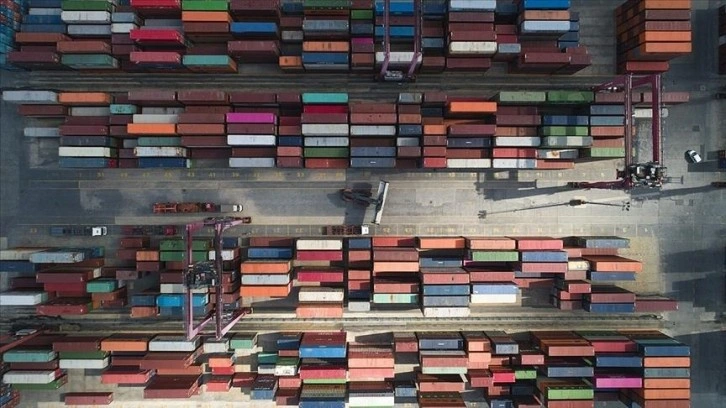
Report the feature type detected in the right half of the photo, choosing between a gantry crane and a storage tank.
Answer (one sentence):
The one visible in the right half of the photo is a gantry crane.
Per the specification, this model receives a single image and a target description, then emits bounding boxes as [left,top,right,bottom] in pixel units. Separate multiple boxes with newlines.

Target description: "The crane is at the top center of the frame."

[374,0,425,82]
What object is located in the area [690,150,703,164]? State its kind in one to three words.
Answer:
vehicle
